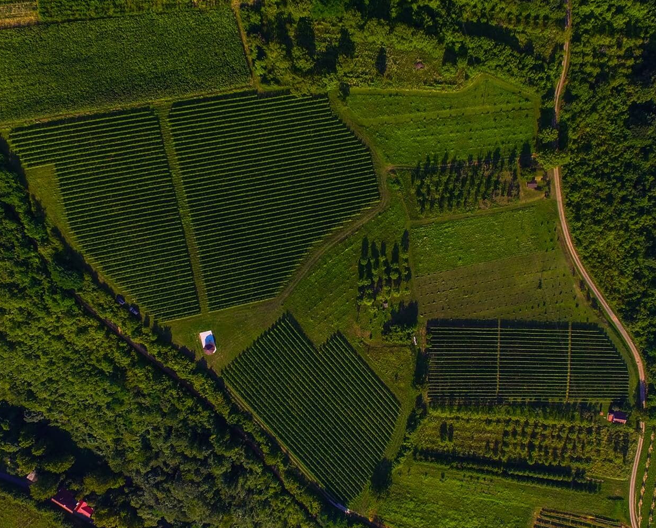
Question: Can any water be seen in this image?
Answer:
No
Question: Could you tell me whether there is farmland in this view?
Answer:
Yes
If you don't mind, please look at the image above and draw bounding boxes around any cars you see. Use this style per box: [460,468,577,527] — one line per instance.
[129,306,138,314]
[117,297,126,305]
